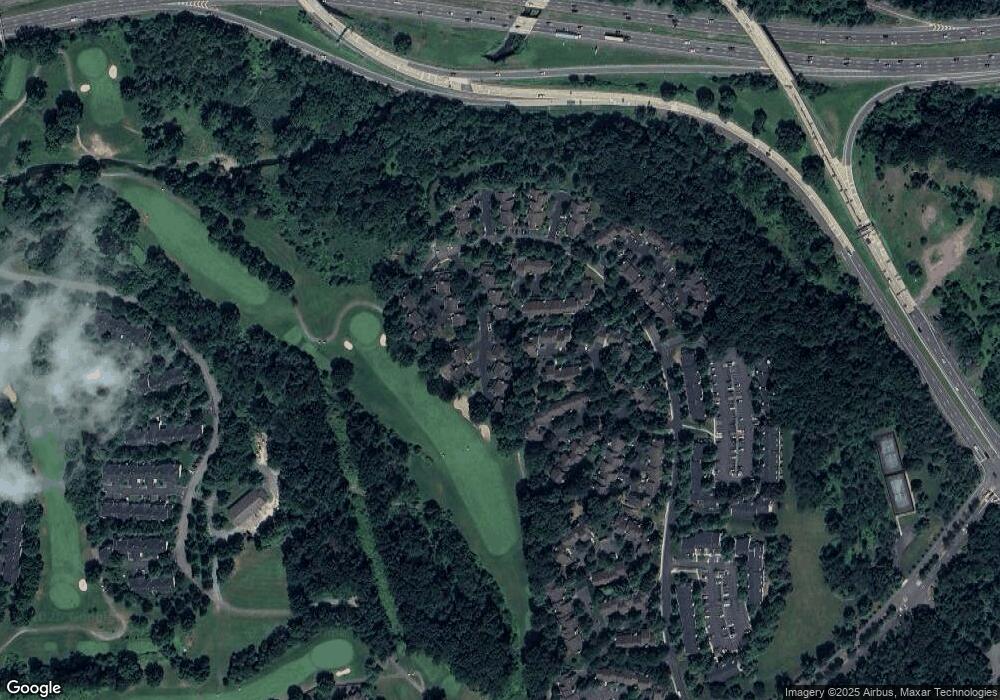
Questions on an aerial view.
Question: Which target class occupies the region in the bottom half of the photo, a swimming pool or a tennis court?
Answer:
tennis court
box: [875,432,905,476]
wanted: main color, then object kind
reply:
gray tennis court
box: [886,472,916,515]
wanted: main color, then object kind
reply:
gray tennis court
